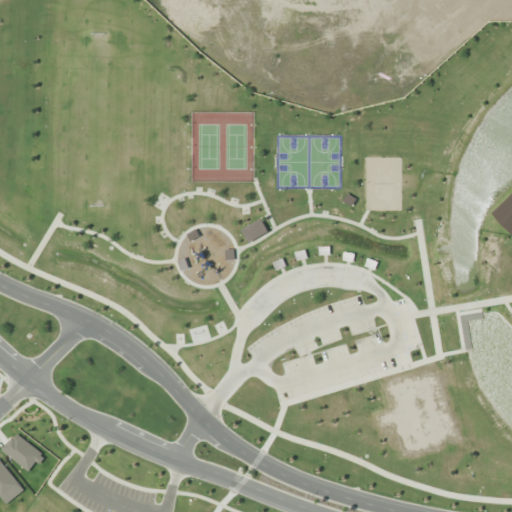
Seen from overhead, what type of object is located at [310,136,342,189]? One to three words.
basketball court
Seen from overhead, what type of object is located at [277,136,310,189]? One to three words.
basketball court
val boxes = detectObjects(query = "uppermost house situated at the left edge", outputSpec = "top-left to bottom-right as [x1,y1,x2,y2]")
[2,435,45,471]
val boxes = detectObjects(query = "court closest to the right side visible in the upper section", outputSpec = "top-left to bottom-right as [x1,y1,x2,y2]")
[366,157,402,210]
